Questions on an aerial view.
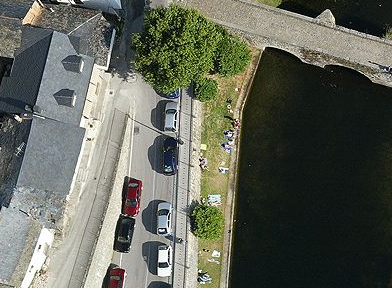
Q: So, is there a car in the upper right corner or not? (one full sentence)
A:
No, in the upper right corner there is no car.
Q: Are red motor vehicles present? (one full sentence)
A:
Yes, you can see a red motor vehicle in this photo.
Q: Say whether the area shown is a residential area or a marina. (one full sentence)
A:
The area seen from above is a residential area.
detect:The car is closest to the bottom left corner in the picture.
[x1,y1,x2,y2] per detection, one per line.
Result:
[105,265,126,288]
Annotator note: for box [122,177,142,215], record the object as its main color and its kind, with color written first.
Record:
red car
